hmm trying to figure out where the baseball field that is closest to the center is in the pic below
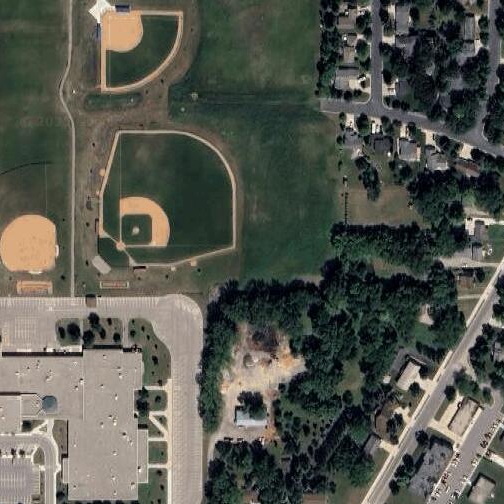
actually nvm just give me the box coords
[98,131,235,268]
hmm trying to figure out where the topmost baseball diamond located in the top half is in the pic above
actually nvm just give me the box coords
[101,10,183,92]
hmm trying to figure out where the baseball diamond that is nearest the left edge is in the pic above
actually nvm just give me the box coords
[0,215,56,272]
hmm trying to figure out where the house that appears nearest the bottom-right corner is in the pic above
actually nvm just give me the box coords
[469,477,495,504]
